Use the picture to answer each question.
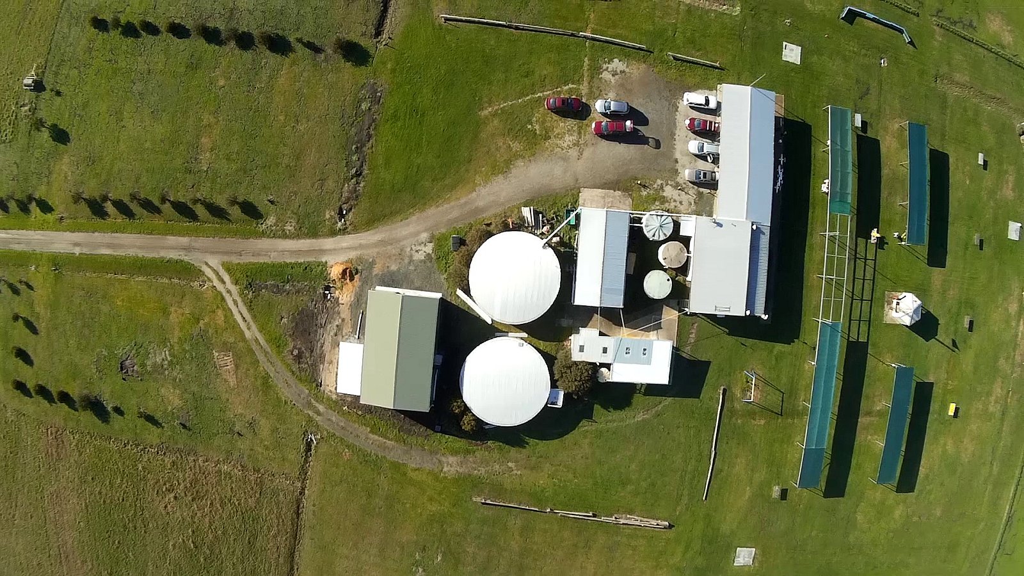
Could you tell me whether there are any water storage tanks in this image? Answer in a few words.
Yes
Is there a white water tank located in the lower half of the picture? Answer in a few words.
Yes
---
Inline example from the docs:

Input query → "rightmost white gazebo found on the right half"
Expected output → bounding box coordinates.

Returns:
[884,292,922,326]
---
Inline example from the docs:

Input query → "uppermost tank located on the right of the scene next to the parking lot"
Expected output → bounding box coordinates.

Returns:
[640,210,673,242]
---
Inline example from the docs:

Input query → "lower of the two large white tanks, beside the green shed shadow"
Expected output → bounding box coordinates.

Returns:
[460,336,551,427]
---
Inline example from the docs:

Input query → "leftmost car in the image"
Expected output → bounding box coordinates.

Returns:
[546,95,582,111]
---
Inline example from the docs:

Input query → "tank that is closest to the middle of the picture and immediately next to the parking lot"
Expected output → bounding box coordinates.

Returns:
[469,231,561,323]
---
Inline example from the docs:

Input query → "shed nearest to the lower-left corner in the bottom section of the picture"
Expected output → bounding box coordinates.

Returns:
[337,288,442,412]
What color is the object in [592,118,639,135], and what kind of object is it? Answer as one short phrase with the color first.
red vehicle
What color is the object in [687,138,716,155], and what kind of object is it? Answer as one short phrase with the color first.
white vehicle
